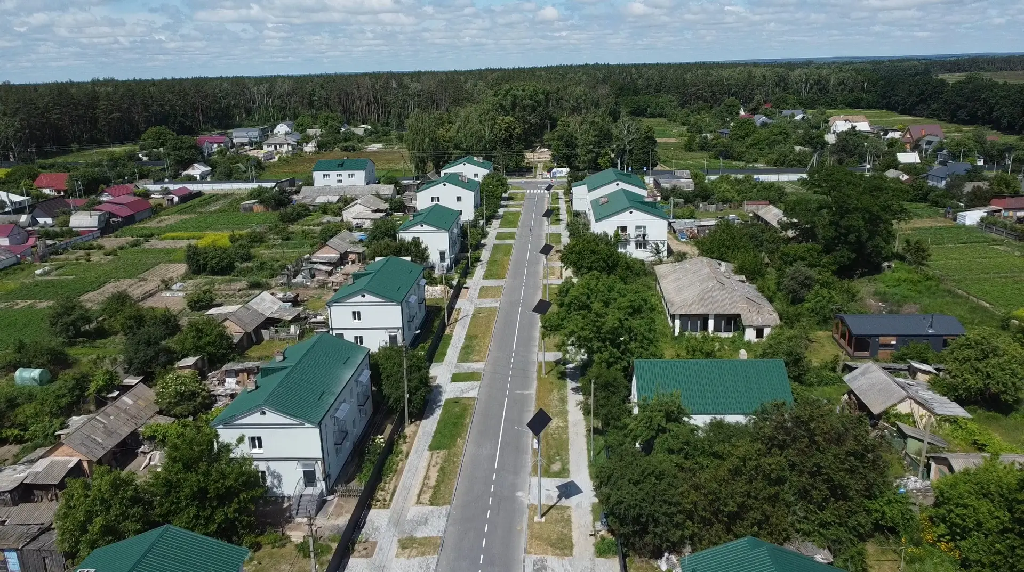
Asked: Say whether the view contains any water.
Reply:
No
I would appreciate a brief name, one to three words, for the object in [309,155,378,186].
house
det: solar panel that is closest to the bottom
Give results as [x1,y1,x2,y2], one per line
[525,410,551,441]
